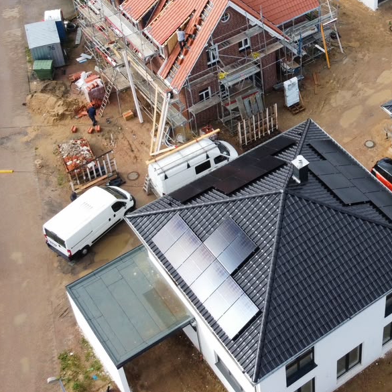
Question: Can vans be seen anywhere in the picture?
Yes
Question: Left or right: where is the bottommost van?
left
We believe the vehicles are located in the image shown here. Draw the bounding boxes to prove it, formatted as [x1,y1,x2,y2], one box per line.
[144,135,237,197]
[370,152,392,189]
[29,182,144,265]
